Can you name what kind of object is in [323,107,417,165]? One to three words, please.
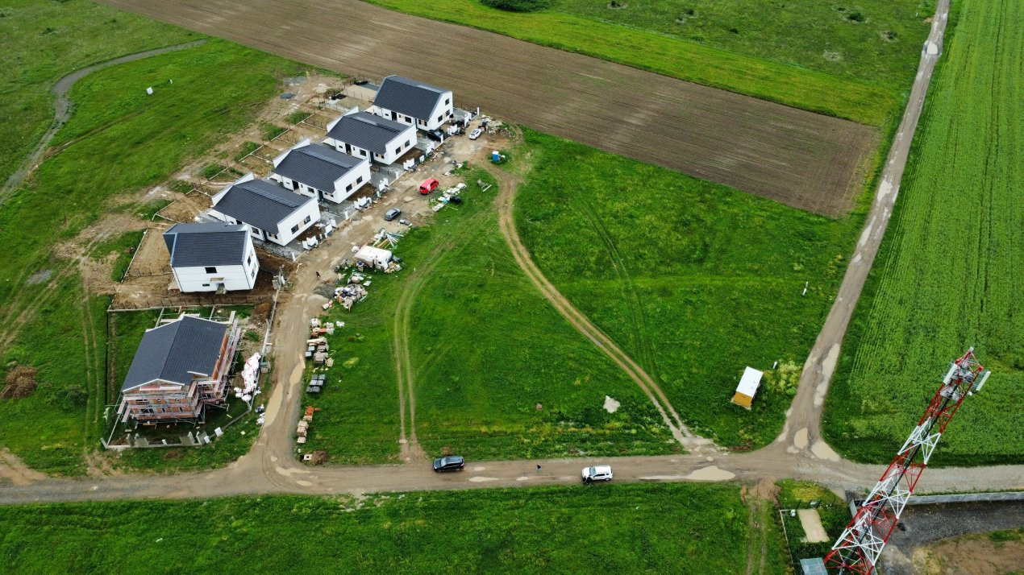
house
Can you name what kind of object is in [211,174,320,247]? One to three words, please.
house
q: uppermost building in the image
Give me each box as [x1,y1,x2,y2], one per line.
[368,76,453,130]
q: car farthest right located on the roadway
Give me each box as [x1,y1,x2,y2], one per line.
[582,467,614,483]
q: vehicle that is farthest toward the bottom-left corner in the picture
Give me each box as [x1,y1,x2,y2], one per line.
[432,457,466,473]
